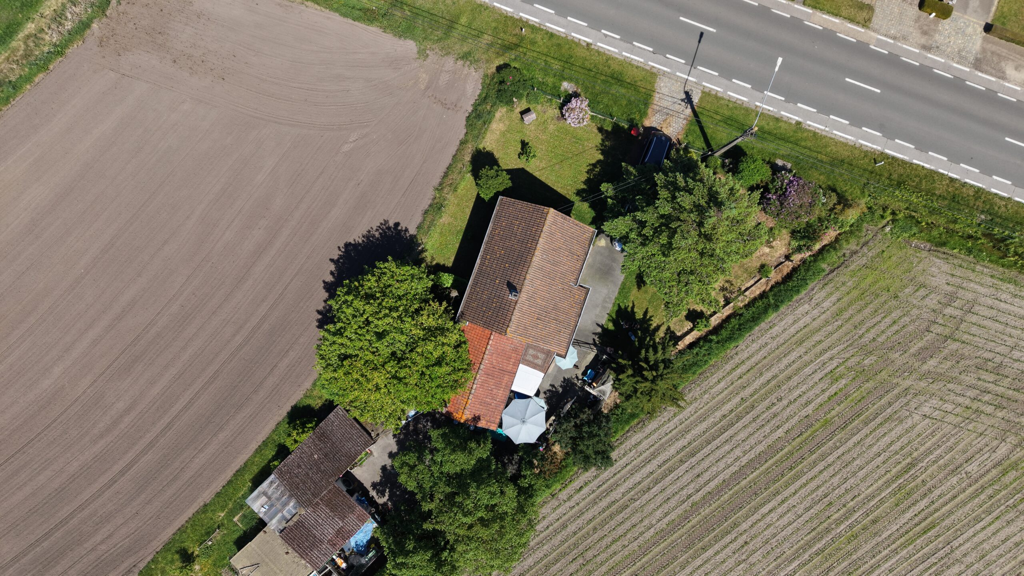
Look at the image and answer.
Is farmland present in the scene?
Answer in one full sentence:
Yes, farmland can be seen from above here.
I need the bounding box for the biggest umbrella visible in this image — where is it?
[502,398,546,442]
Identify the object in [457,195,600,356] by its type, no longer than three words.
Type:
house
